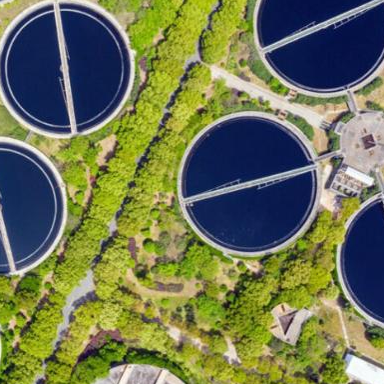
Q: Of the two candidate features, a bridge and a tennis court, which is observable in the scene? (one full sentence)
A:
There is a bridge in the scene.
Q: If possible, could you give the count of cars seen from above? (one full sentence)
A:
I count no cars.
